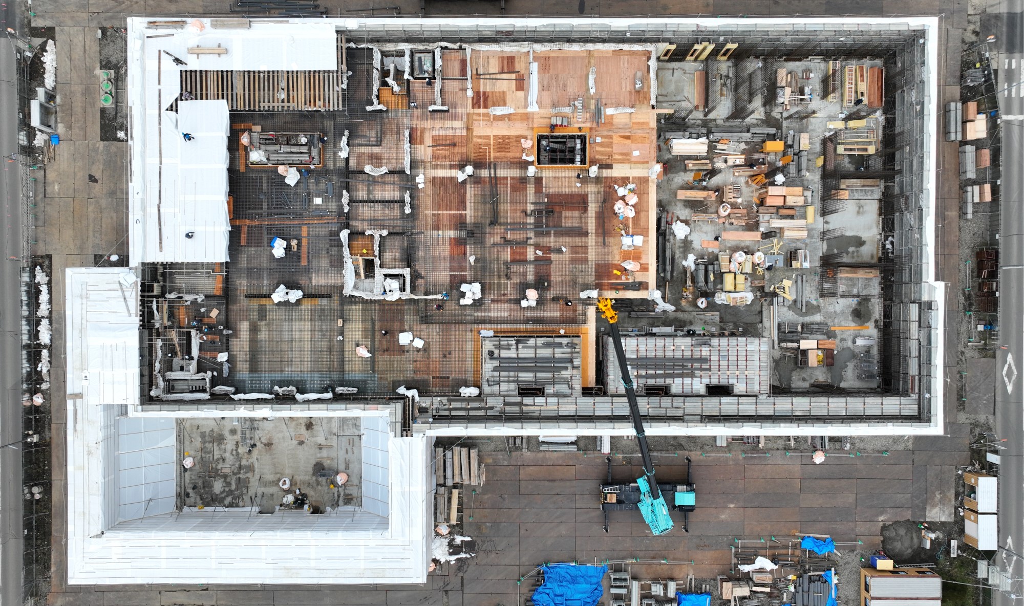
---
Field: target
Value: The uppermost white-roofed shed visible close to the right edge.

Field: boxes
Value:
[964,472,997,512]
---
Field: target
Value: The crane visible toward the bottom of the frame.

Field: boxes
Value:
[580,295,696,536]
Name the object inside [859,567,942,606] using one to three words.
building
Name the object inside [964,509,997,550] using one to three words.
shed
